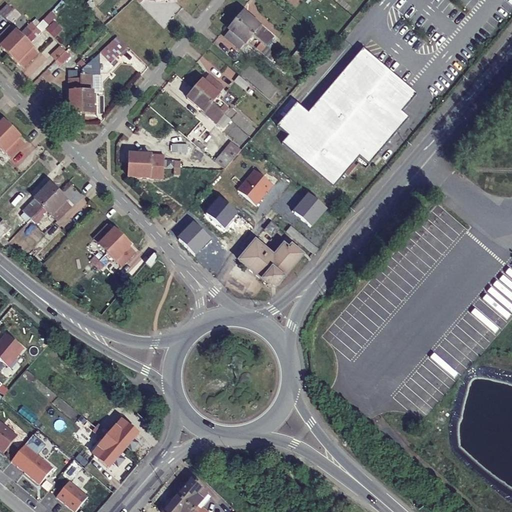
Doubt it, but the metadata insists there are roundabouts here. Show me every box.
[166,310,298,440]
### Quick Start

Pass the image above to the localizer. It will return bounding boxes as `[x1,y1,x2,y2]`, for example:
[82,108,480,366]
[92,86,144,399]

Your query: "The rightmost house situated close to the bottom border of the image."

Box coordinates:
[160,477,212,512]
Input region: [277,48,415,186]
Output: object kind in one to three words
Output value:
building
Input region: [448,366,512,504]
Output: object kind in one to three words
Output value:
pond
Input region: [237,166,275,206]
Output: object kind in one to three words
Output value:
house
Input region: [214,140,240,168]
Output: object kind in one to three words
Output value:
shed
